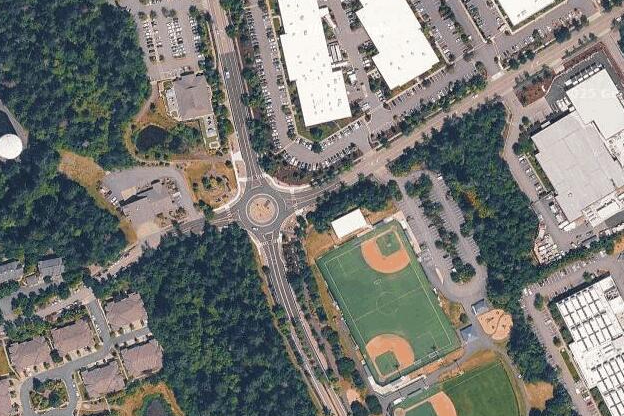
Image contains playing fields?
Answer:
Yes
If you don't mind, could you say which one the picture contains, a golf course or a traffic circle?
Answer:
traffic circle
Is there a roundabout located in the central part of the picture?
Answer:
Yes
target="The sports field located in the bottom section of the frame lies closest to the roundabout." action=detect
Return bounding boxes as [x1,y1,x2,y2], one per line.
[316,221,462,385]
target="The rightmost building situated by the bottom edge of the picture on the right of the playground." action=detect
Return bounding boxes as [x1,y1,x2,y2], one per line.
[556,276,624,416]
